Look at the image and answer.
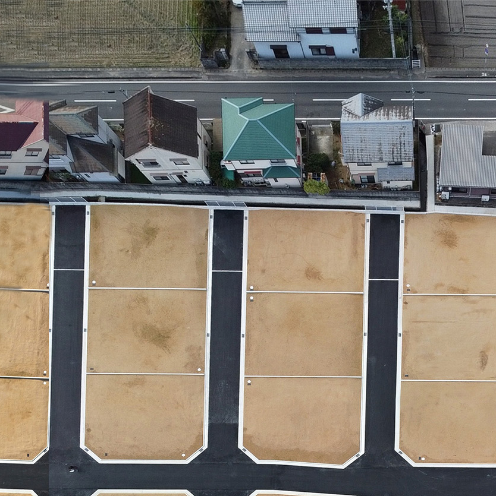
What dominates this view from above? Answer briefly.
paved ground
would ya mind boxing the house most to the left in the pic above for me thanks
[0,93,56,171]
